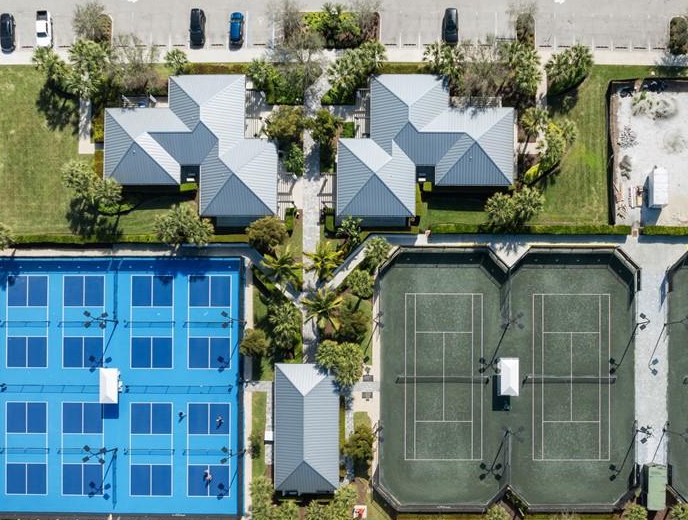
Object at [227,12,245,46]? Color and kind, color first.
blue car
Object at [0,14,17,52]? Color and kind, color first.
black car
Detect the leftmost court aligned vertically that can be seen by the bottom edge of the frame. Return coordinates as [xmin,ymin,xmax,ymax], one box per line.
[0,385,56,516]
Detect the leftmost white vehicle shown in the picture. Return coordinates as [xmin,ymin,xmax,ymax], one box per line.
[33,8,53,48]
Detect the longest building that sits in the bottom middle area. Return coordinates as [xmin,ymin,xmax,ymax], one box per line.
[275,363,339,491]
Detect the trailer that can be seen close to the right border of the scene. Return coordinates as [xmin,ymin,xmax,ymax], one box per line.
[647,164,668,207]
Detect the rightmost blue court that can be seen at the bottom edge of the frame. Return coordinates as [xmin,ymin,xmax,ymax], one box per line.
[181,385,244,516]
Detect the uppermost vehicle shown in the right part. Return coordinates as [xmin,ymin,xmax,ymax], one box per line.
[442,7,460,46]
